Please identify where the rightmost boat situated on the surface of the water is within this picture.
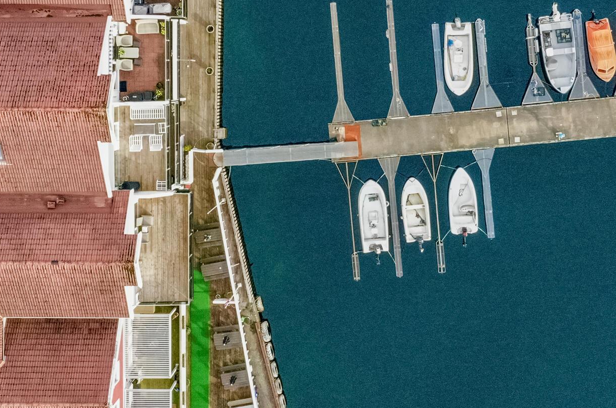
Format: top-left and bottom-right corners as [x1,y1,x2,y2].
[584,8,616,82]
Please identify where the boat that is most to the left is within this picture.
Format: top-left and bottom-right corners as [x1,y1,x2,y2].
[358,180,392,270]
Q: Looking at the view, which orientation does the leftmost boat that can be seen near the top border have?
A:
from top to bottom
